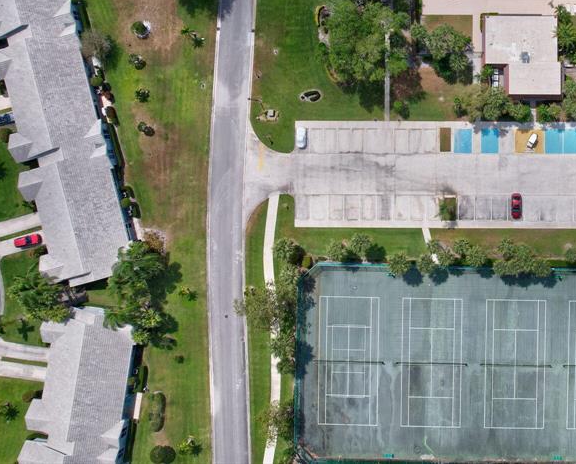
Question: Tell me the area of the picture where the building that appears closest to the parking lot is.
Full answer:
The building that appears closest to the parking lot is located in the top right region of the scene.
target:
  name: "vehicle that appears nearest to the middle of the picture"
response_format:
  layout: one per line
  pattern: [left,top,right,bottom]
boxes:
[294,127,306,148]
